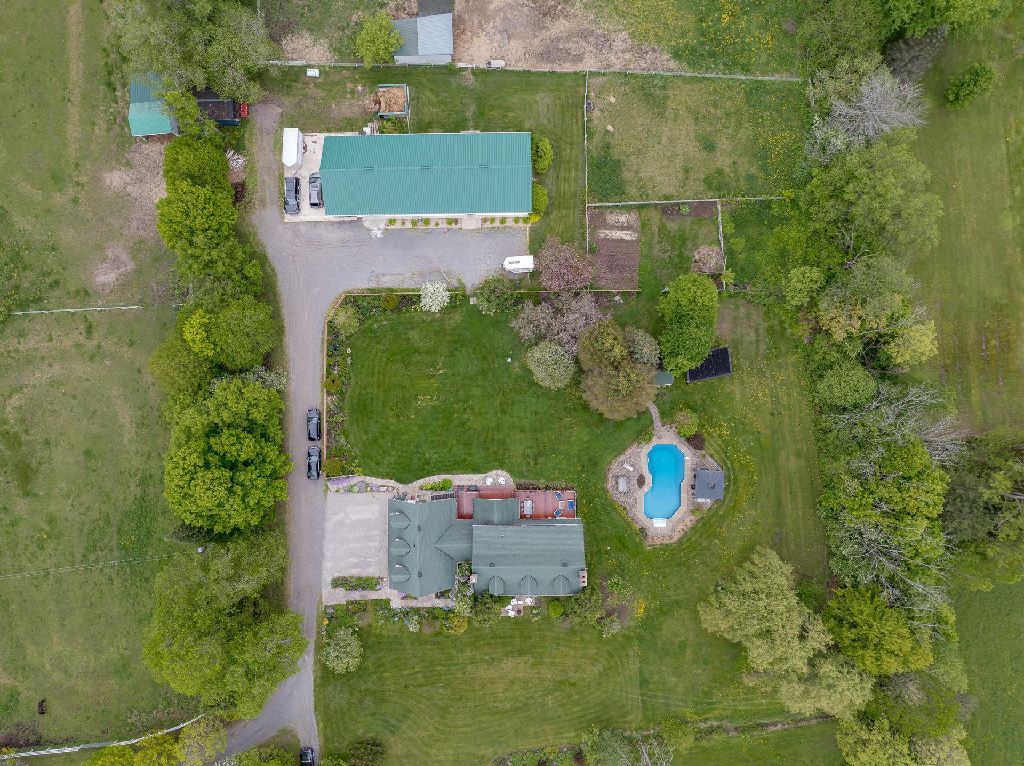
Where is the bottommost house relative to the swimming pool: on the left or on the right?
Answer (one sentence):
Compared with the swimming pool, the bottommost house is located further to the left.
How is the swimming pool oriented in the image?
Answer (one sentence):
What the image shows is the swimming pool lying from top to bottom.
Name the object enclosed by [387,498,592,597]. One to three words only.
house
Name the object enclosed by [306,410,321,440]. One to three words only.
car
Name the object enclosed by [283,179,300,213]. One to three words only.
car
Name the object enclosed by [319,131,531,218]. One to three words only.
barn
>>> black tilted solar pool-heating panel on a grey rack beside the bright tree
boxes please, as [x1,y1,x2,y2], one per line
[685,347,732,382]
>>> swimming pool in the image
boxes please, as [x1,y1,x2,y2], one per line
[643,444,688,527]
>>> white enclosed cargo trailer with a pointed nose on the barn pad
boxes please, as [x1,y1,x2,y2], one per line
[283,128,304,179]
